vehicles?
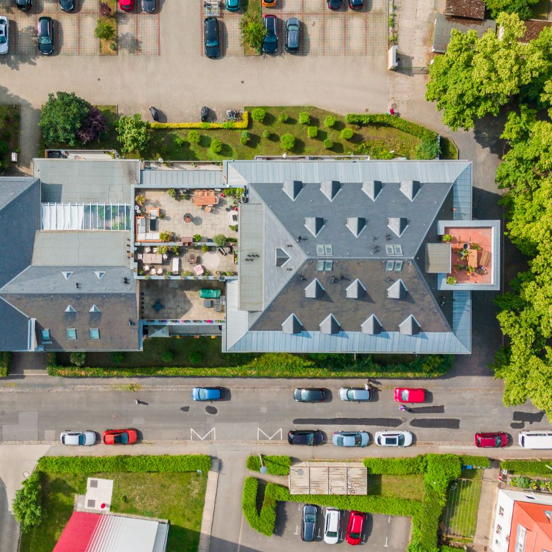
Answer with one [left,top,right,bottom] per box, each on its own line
[103,427,137,446]
[348,0,364,11]
[192,384,224,404]
[0,15,11,55]
[15,0,33,11]
[323,508,343,543]
[332,429,369,448]
[293,385,326,405]
[288,429,324,447]
[300,505,320,540]
[36,16,55,56]
[284,17,302,53]
[347,512,367,544]
[61,429,96,447]
[518,430,552,449]
[59,0,75,13]
[141,0,157,13]
[261,14,280,55]
[202,15,223,58]
[326,0,343,10]
[394,386,425,405]
[473,431,508,449]
[225,0,241,12]
[374,429,412,448]
[119,0,135,11]
[339,384,372,404]
[261,0,276,8]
